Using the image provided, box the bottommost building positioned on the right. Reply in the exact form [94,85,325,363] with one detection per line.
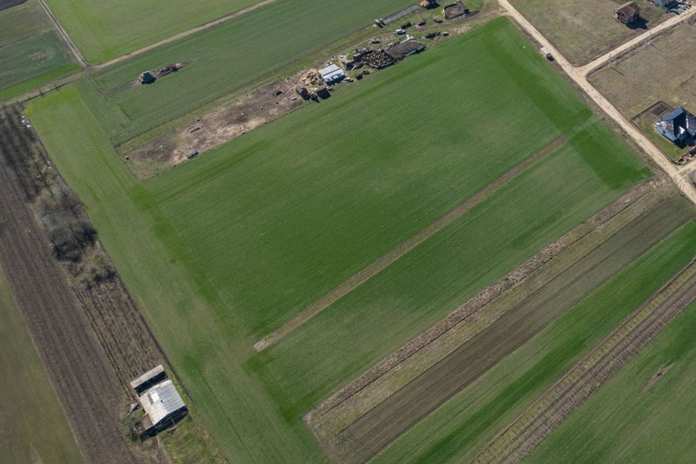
[665,106,696,140]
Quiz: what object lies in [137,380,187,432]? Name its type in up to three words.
barn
